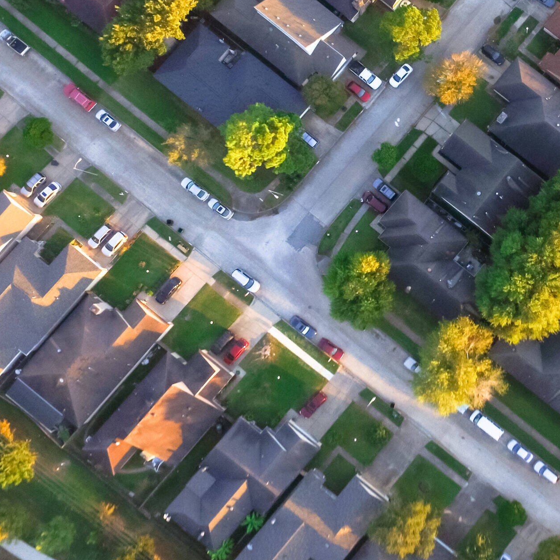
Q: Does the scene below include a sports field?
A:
No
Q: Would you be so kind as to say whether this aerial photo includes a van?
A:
Yes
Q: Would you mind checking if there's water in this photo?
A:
No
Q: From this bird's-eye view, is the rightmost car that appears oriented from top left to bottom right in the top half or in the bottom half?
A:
bottom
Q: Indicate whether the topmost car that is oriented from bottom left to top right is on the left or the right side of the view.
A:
right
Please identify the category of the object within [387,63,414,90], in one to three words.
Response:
car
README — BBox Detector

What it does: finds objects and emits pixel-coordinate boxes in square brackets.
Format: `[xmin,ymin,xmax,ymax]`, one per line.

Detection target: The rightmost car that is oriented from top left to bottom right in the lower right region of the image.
[532,459,560,487]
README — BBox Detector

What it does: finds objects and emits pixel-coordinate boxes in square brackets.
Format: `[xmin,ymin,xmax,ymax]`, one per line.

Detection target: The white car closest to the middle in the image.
[228,268,259,292]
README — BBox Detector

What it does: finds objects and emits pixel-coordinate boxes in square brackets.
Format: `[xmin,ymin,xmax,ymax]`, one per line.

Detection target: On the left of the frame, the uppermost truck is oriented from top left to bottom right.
[0,28,33,57]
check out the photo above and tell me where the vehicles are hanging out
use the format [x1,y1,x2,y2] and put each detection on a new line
[500,549,515,560]
[370,176,399,202]
[222,337,250,365]
[33,181,62,208]
[506,439,535,465]
[360,189,389,215]
[181,177,210,202]
[228,268,259,292]
[100,230,129,258]
[206,327,234,355]
[348,59,382,91]
[153,277,182,305]
[345,78,373,104]
[299,392,328,418]
[532,459,560,487]
[387,63,414,90]
[66,84,96,110]
[94,107,124,133]
[316,336,347,360]
[472,412,505,444]
[303,126,325,153]
[289,314,320,339]
[0,28,33,57]
[205,197,235,222]
[19,173,49,200]
[479,42,508,68]
[85,222,116,250]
